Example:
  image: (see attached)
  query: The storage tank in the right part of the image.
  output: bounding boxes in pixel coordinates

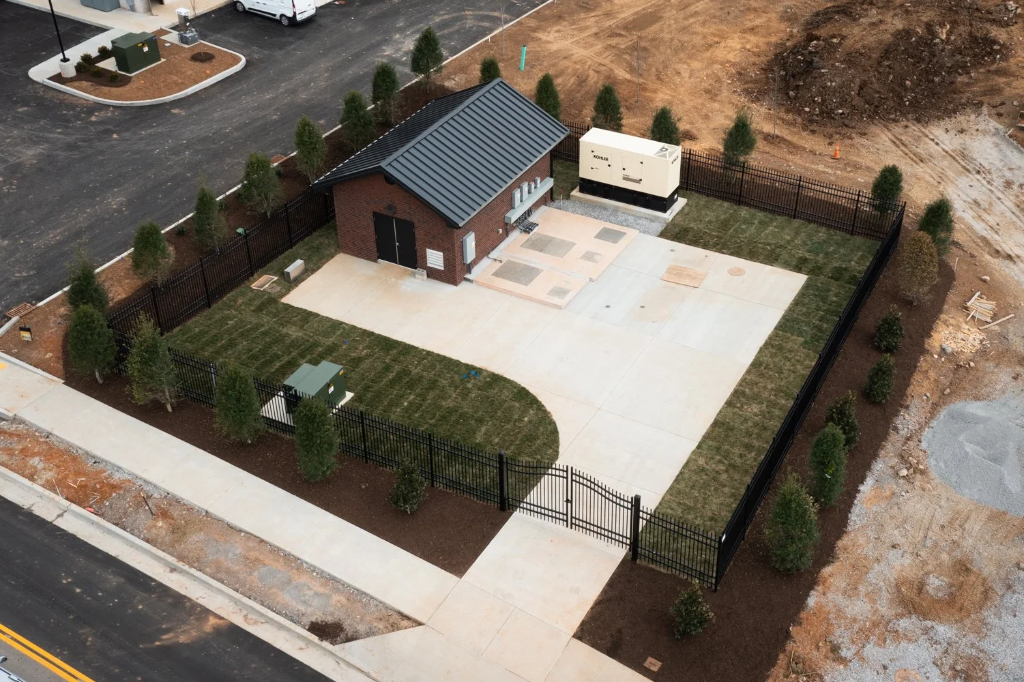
[579,178,681,212]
